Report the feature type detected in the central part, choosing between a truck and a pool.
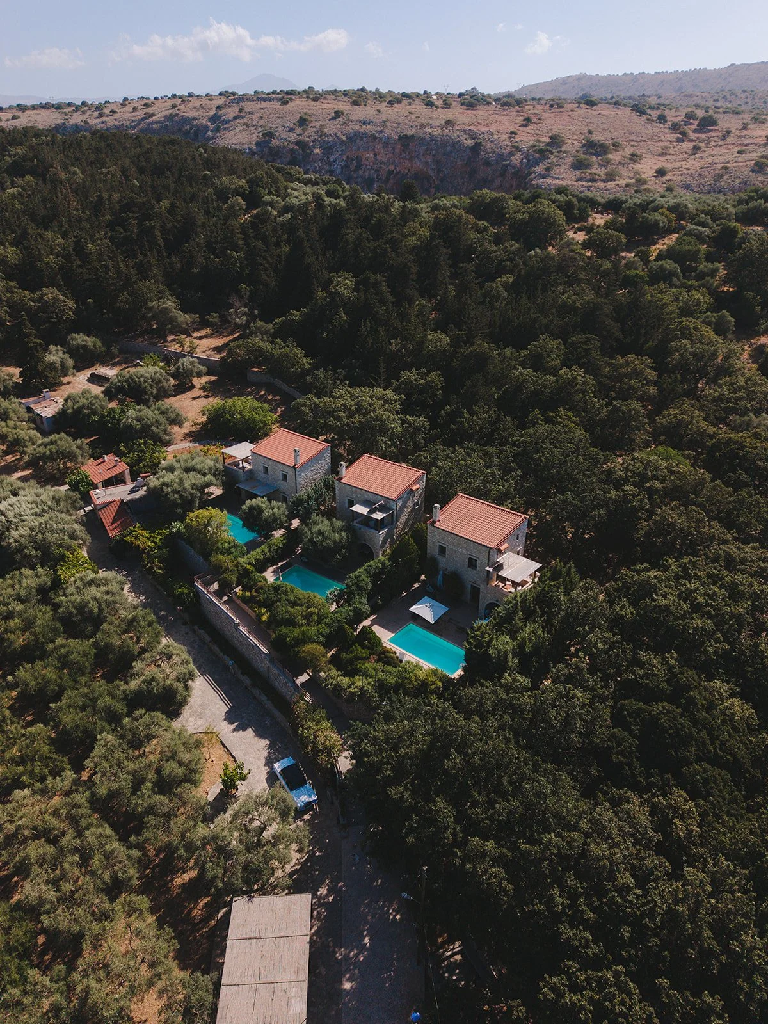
pool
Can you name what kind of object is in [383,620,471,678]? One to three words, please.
swimming pool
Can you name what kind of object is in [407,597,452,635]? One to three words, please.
umbrella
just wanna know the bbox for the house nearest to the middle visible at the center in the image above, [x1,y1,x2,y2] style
[332,452,430,558]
